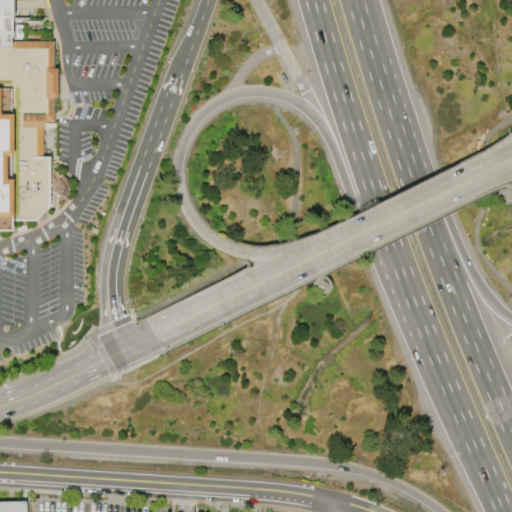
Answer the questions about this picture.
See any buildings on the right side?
No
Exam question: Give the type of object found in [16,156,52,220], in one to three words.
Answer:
building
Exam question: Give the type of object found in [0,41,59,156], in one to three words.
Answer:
building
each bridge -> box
[148,134,512,352]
